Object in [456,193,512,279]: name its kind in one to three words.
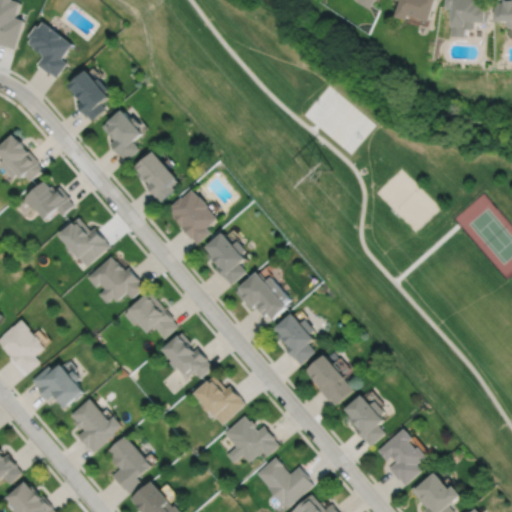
tennis court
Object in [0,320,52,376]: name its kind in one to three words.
house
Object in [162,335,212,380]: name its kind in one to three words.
house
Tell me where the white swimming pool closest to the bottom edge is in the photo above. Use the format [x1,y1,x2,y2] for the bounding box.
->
[201,172,240,213]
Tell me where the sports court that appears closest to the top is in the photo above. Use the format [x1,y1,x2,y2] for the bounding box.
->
[306,86,376,155]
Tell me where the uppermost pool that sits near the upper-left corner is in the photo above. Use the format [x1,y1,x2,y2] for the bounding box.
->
[62,4,100,41]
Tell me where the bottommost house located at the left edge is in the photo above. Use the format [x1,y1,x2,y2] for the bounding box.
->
[6,483,55,512]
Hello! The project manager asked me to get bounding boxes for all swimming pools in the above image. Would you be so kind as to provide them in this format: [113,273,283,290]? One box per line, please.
[62,4,100,41]
[442,8,494,65]
[498,39,512,68]
[201,172,240,213]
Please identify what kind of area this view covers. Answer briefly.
residential area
